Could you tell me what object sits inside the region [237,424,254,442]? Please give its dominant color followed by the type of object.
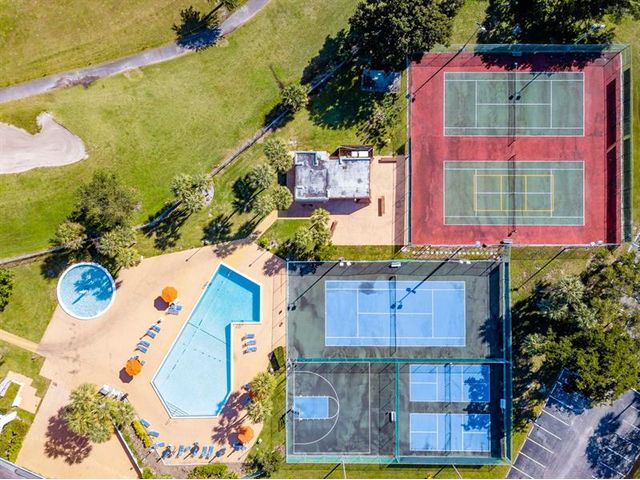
orange umbrella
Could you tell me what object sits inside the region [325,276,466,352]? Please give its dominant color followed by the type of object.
blue tennis court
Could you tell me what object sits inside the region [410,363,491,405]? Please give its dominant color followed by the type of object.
blue sports court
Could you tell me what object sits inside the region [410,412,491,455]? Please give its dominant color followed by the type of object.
blue sports court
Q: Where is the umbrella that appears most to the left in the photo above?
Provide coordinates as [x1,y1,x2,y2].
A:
[125,358,142,375]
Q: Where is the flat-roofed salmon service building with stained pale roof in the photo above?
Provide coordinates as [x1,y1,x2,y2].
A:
[296,152,371,202]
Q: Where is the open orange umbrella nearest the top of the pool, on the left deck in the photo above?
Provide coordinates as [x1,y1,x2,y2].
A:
[161,286,178,302]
